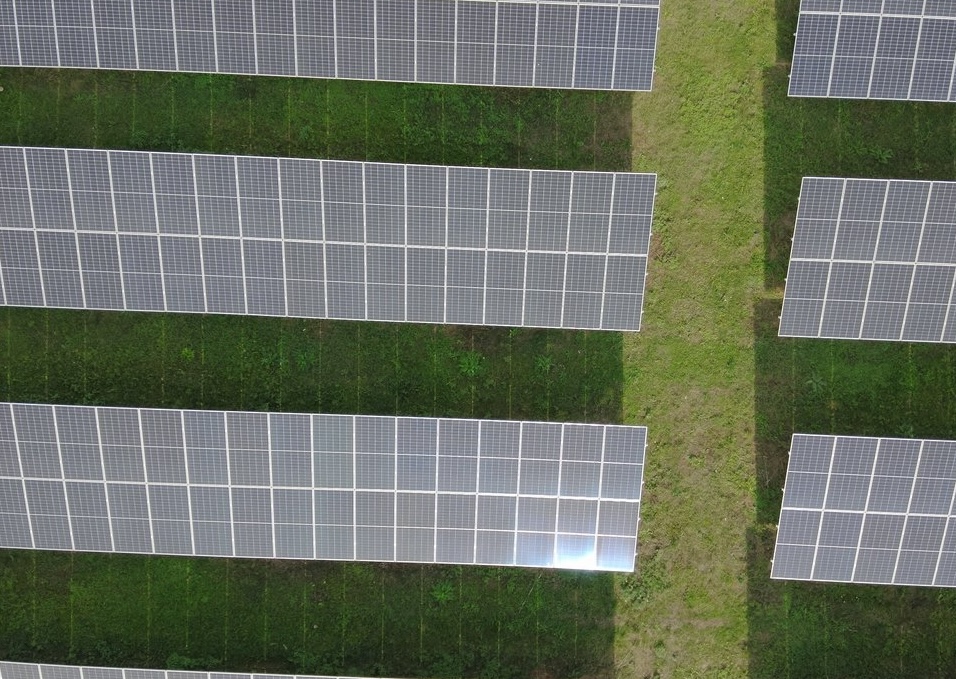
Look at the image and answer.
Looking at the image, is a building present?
No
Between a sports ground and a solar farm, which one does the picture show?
solar farm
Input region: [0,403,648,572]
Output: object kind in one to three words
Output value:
solar array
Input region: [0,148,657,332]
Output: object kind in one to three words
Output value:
solar array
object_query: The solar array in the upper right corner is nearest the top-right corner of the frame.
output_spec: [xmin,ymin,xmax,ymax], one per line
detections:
[788,0,956,101]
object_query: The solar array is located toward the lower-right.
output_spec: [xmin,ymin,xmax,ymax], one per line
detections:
[770,434,956,586]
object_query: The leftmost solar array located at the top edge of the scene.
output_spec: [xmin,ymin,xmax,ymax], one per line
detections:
[0,0,660,90]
